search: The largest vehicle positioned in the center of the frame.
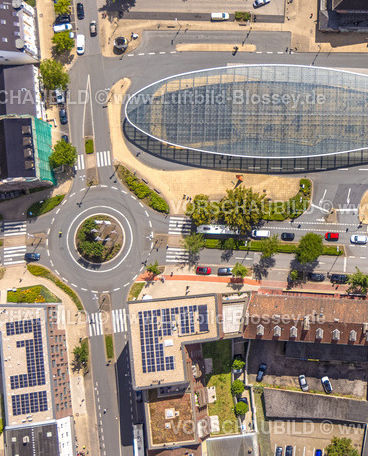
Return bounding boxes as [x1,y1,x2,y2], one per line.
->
[195,224,241,237]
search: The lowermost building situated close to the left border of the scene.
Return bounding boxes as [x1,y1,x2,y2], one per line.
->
[7,421,75,456]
